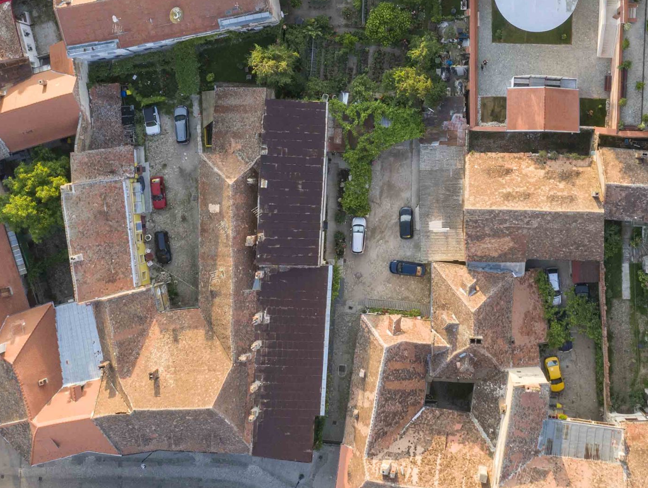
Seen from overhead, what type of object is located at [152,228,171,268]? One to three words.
car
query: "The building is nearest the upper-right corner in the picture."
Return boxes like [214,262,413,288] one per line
[506,76,579,130]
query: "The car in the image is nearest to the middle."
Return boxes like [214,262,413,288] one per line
[350,218,367,255]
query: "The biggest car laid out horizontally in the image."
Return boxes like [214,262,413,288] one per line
[387,260,424,277]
